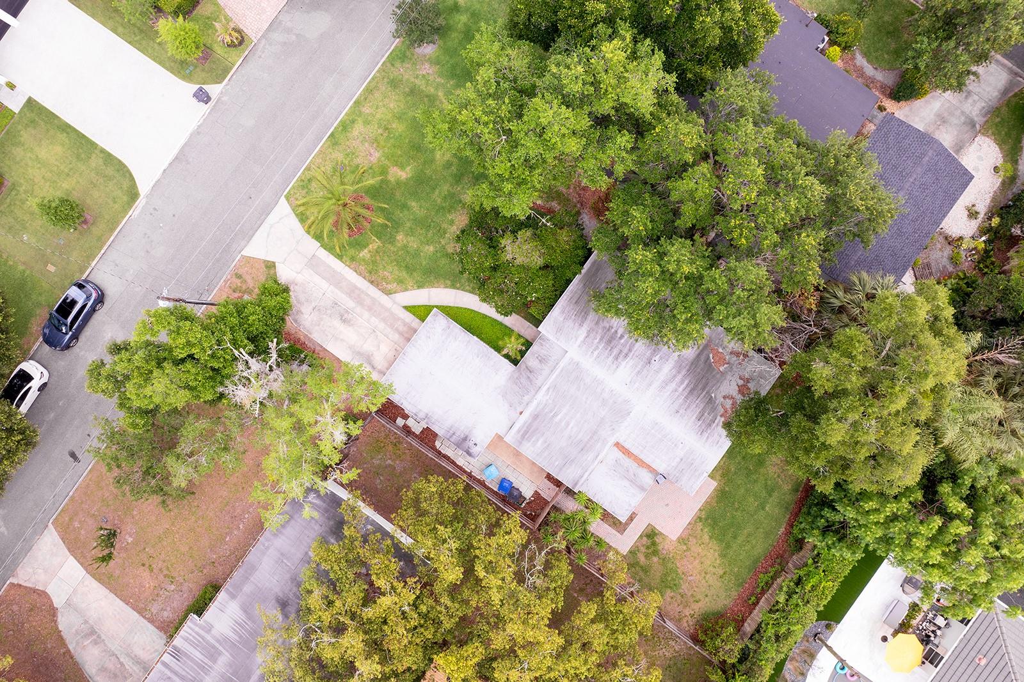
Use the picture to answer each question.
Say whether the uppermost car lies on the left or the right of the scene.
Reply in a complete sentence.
It is on the left.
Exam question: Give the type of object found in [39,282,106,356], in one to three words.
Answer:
car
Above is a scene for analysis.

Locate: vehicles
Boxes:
[39,282,106,356]
[0,364,49,435]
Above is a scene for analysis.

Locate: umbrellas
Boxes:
[879,632,925,674]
